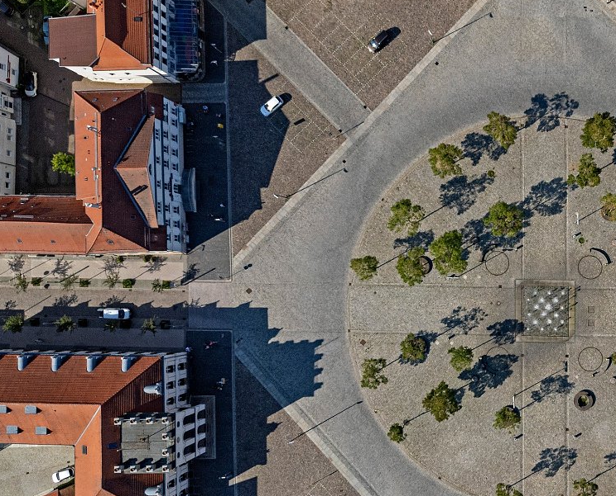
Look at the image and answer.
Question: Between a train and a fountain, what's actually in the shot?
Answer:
fountain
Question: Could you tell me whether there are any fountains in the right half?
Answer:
Yes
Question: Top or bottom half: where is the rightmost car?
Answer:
top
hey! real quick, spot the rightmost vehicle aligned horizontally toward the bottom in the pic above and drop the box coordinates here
[96,306,135,322]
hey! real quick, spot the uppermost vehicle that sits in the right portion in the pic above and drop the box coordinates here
[365,28,392,53]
